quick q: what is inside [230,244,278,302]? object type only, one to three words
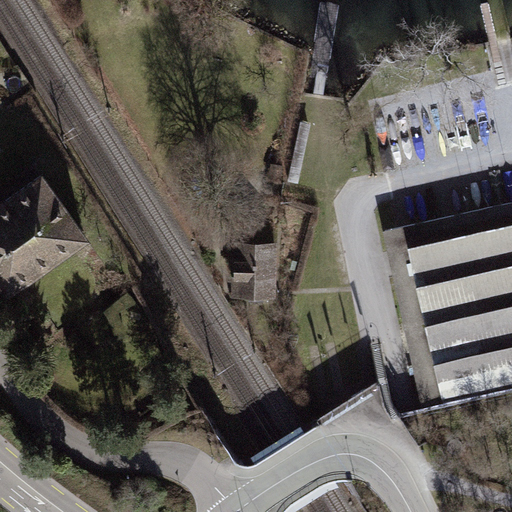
house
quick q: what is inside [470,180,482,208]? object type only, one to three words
boat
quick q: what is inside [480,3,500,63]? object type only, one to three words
pier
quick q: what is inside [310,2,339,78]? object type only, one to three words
pier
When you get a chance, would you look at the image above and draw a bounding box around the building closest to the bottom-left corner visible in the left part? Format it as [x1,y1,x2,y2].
[104,294,144,353]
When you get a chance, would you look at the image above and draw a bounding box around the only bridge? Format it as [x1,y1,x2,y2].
[248,425,352,512]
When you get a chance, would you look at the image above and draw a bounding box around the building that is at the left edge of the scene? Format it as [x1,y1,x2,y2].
[0,175,87,304]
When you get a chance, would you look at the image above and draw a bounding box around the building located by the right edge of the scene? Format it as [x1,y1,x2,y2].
[382,201,512,408]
